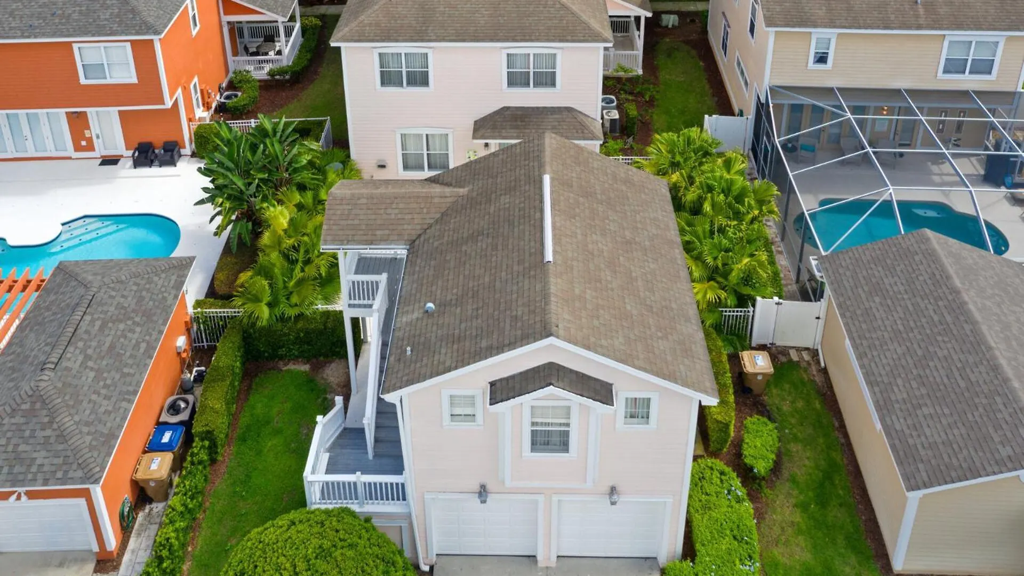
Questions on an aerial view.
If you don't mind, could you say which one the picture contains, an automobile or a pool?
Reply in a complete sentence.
The image shows a pool.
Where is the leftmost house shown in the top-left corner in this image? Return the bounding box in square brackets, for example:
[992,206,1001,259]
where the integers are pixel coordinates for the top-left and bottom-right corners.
[0,0,304,162]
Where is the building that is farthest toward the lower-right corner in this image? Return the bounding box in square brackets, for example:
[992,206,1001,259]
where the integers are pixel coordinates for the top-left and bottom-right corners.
[817,229,1024,576]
